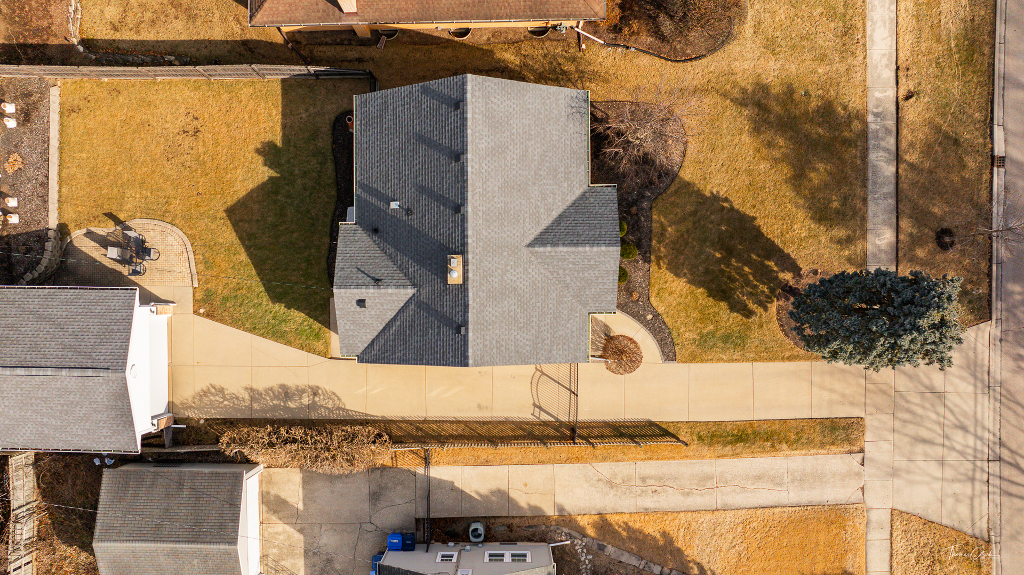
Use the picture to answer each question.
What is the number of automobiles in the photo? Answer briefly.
none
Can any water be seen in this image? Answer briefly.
No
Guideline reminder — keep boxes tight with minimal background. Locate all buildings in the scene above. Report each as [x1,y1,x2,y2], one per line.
[372,542,570,575]
[332,73,621,367]
[246,0,608,61]
[91,462,262,575]
[0,284,185,457]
